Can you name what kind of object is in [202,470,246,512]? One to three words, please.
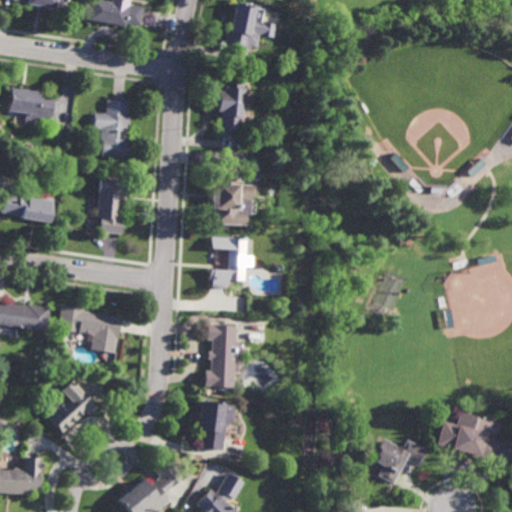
house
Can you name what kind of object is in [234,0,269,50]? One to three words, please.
house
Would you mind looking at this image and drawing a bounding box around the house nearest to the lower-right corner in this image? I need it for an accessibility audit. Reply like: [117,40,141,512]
[438,410,498,459]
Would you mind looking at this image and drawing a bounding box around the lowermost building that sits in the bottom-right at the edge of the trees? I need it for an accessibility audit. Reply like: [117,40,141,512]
[376,436,428,488]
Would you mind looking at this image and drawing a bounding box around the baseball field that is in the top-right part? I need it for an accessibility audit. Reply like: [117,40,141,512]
[348,46,512,190]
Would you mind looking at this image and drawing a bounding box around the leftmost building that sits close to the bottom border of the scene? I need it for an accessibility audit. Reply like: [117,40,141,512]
[0,453,44,496]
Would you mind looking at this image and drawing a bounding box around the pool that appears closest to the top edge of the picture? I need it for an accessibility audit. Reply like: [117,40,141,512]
[248,276,280,295]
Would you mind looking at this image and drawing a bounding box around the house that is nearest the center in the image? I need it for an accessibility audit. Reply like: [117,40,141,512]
[212,235,256,288]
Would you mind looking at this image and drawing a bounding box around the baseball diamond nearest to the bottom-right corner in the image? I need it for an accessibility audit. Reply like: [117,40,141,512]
[444,250,512,338]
